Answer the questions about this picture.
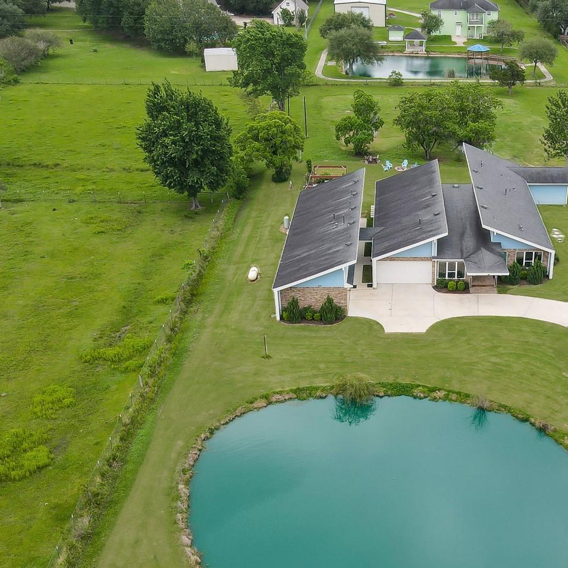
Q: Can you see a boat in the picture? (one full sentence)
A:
No, the photo shows no boat.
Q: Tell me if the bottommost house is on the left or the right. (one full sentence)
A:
You can find the bottommost house on the right side of the picture.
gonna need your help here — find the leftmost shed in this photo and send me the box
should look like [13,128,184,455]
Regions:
[203,43,241,71]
